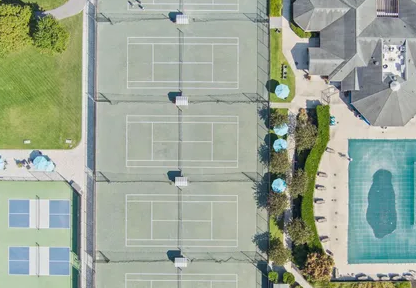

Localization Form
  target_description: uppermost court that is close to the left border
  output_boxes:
[0,181,81,236]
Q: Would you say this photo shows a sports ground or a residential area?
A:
sports ground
